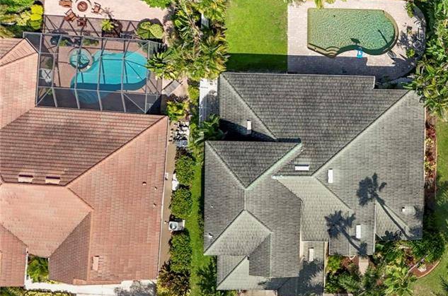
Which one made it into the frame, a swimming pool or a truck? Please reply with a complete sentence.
Looking from above, you can make out a swimming pool.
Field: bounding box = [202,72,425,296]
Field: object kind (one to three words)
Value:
house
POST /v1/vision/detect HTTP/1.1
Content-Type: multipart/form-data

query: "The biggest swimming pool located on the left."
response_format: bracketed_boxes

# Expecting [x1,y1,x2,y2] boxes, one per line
[69,46,152,105]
